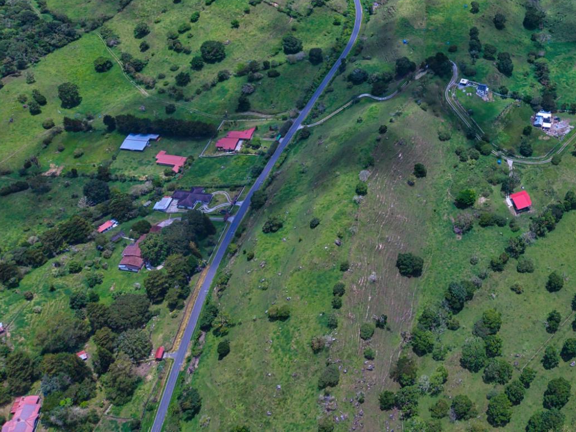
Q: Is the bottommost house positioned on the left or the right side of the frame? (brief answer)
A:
left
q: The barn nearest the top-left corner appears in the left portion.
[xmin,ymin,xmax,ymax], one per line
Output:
[118,135,160,154]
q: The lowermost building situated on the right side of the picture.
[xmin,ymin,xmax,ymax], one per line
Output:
[506,190,536,214]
